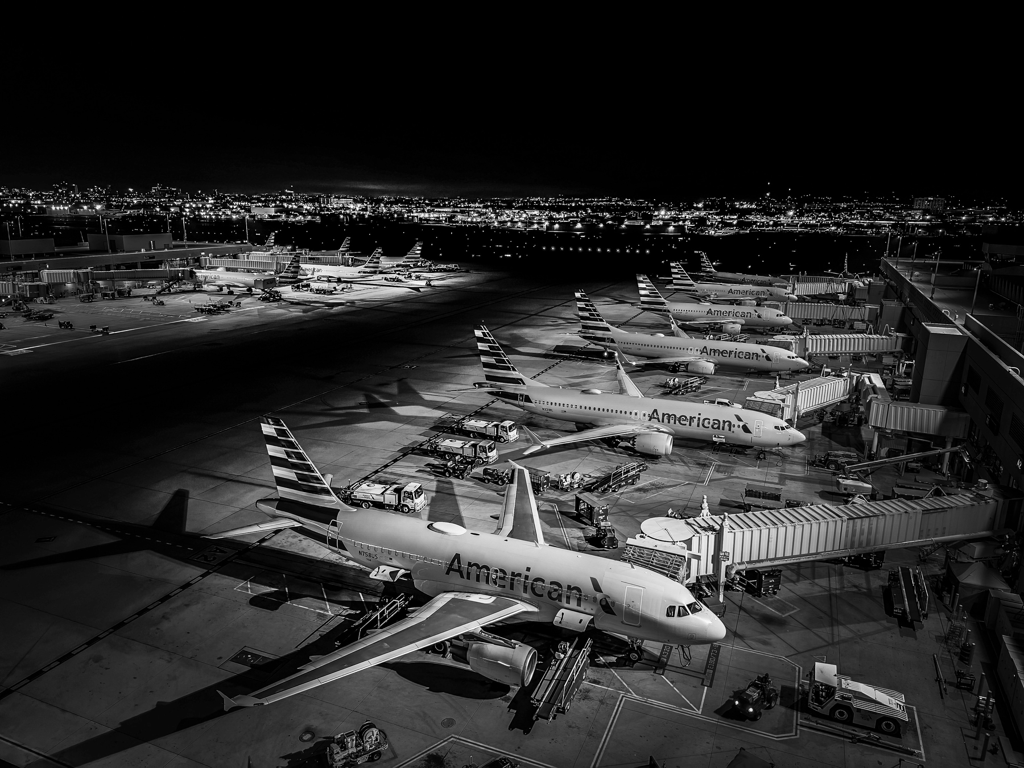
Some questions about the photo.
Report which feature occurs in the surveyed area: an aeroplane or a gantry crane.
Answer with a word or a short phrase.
aeroplane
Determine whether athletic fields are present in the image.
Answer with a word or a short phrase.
No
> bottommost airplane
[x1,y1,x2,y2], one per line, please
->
[200,415,725,712]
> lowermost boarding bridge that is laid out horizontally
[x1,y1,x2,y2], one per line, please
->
[622,484,1024,620]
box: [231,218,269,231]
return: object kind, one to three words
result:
building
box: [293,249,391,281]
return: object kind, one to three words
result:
airplane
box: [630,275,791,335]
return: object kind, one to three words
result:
airplane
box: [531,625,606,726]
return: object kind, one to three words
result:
work vehicle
